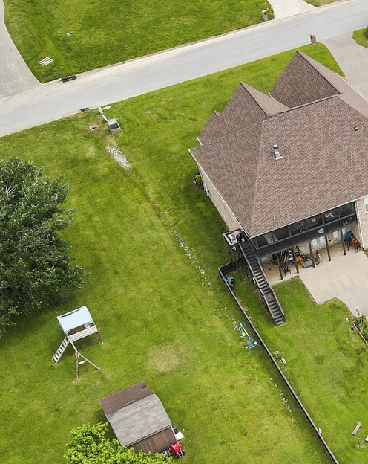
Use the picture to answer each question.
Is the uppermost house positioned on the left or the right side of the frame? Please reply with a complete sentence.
It is on the right.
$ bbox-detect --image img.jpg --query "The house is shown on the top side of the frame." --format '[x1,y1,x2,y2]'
[189,51,368,279]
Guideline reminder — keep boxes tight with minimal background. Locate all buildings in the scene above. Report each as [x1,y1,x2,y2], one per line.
[189,51,368,279]
[101,381,174,457]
